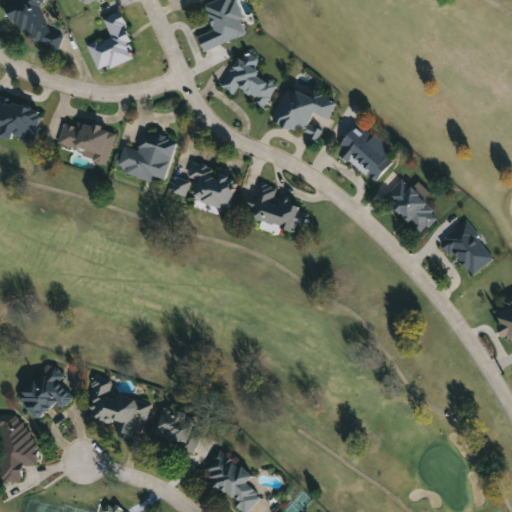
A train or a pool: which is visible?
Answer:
pool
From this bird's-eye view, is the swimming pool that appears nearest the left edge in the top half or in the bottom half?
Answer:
top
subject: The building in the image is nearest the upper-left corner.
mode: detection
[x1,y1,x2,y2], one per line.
[3,0,66,50]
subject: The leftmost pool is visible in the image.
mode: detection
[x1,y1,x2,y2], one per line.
[64,149,94,169]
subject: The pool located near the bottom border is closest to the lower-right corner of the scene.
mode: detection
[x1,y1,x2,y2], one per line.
[254,470,285,500]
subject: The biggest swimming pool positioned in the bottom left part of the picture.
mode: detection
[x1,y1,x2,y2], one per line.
[112,376,147,394]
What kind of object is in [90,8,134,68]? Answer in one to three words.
house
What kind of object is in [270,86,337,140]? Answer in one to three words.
house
